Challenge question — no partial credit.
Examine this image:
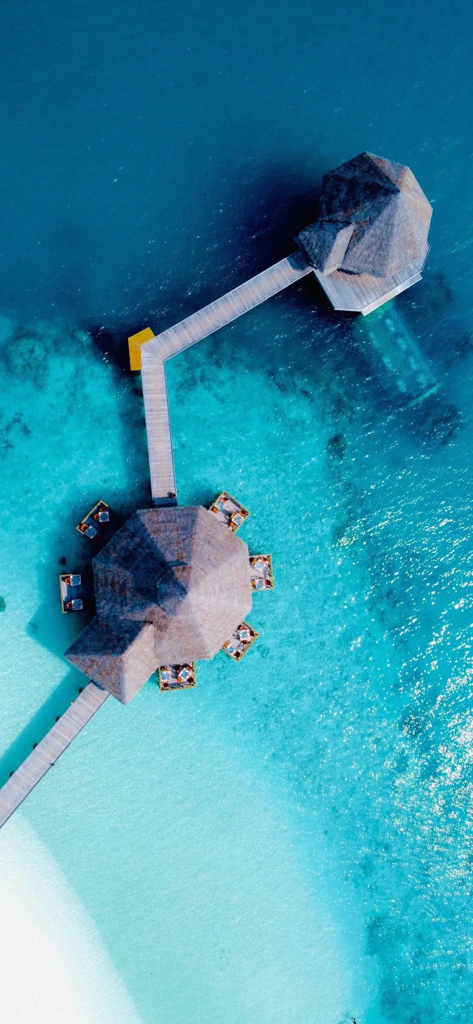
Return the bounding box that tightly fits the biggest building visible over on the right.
[278,152,433,323]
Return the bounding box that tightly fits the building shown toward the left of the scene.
[64,504,253,707]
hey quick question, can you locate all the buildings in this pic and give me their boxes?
[278,152,433,323]
[64,504,253,707]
